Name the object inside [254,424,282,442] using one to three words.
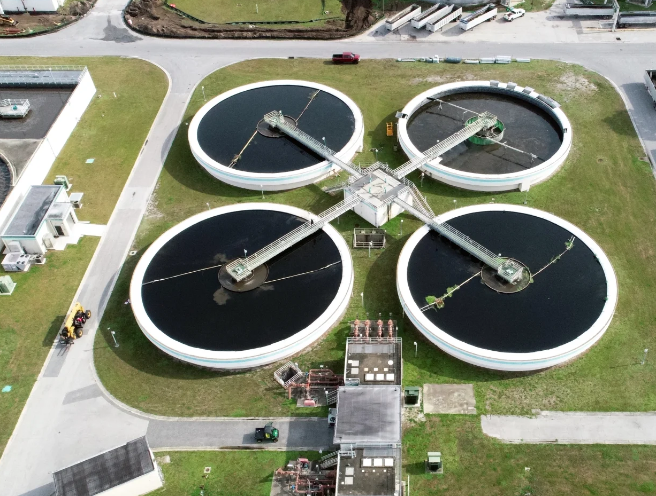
vehicle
